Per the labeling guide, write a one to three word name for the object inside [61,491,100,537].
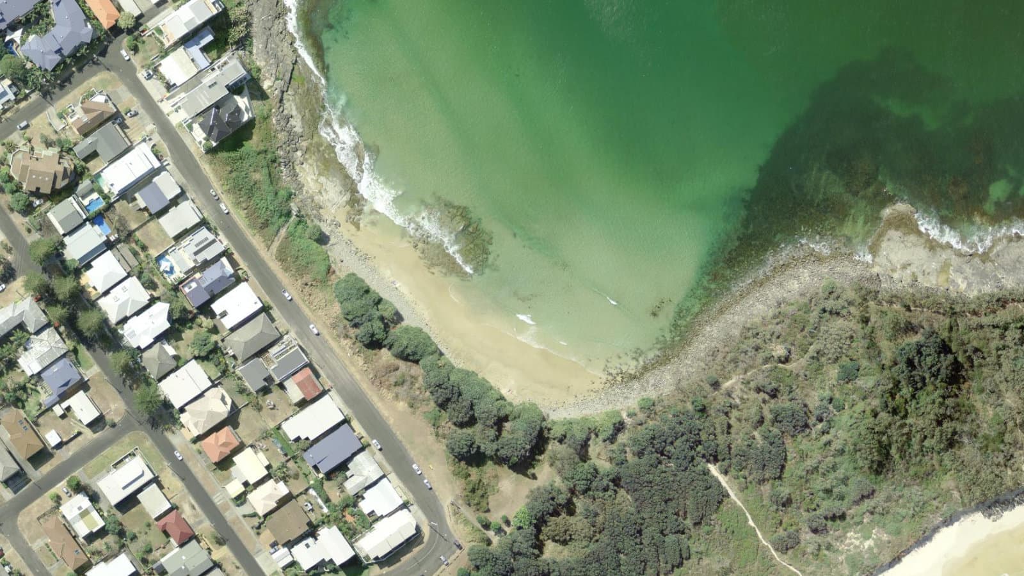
house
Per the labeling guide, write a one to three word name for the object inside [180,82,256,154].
house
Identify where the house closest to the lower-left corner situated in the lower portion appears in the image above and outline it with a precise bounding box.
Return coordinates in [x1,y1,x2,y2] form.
[40,516,86,571]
